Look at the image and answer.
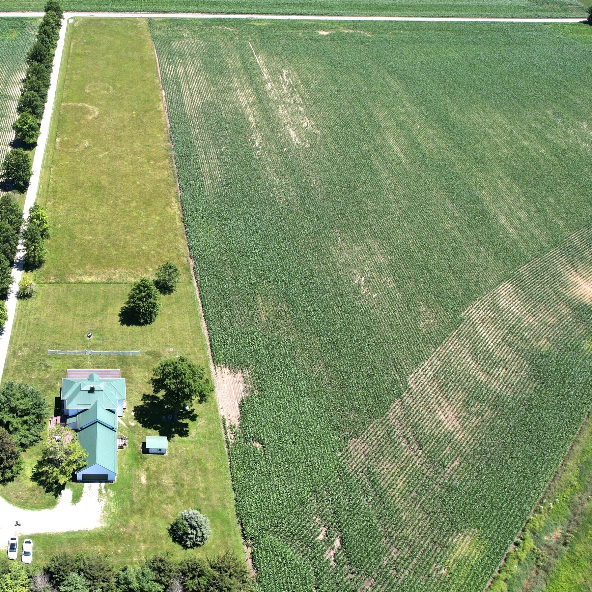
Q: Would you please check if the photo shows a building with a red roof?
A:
No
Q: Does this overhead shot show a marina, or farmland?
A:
farmland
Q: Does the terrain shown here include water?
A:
No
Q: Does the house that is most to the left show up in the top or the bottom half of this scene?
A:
bottom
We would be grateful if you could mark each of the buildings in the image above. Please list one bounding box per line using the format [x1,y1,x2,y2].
[146,436,168,453]
[61,369,126,481]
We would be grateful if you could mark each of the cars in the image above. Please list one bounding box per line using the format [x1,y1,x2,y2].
[20,538,33,566]
[6,534,18,561]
